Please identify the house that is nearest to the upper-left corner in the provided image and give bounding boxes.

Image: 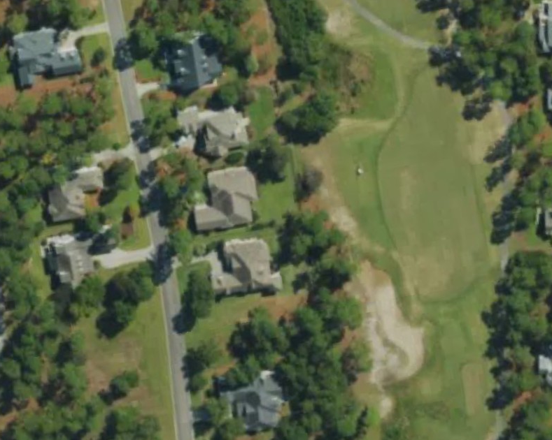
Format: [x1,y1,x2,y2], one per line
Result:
[11,25,83,86]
